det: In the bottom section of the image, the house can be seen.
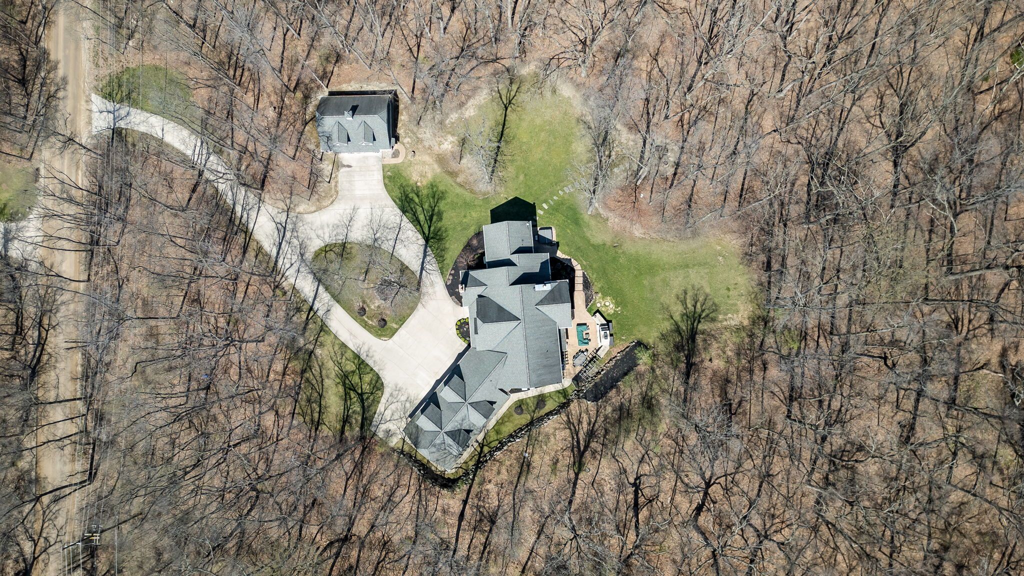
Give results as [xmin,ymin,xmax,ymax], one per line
[402,221,572,471]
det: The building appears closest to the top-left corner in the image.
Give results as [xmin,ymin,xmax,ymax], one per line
[311,95,396,153]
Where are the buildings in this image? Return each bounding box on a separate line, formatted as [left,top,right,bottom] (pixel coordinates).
[311,95,396,153]
[402,221,572,471]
